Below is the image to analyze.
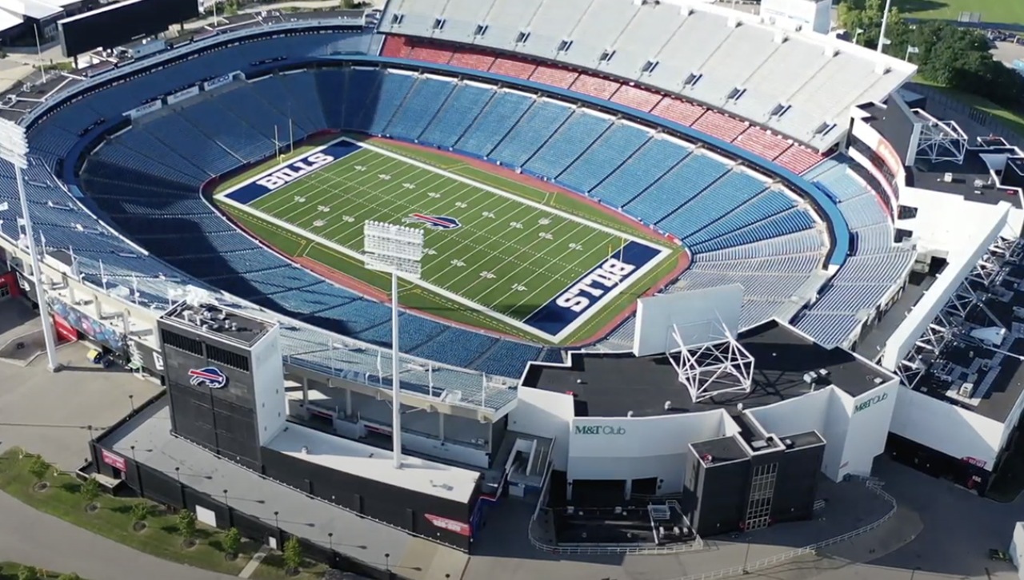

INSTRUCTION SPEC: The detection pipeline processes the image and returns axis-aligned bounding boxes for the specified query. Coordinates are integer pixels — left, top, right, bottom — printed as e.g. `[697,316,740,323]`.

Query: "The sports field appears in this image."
[208,133,674,344]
